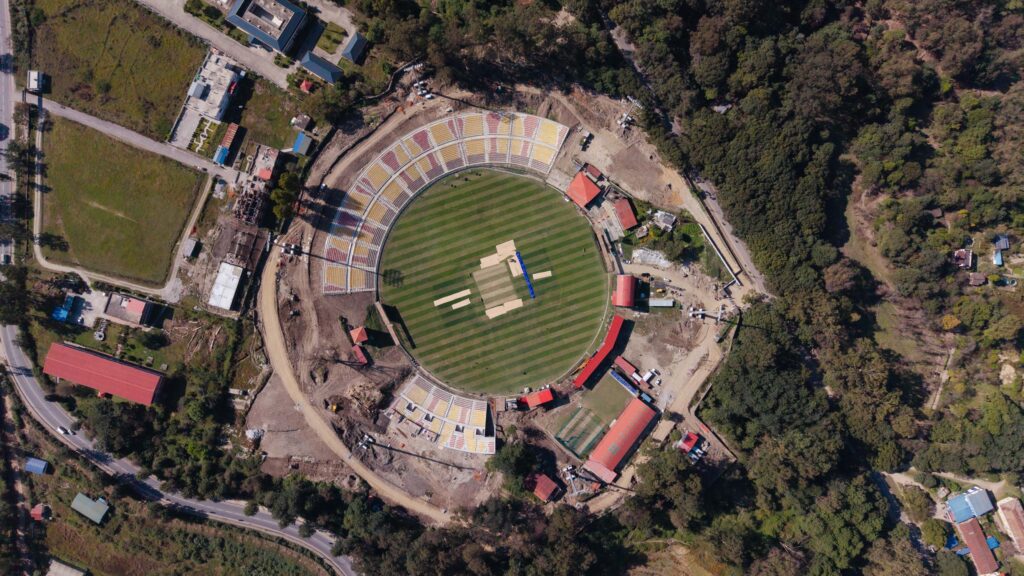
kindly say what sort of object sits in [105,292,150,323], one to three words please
house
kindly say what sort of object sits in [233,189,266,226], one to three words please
building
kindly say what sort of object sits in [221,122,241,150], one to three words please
shed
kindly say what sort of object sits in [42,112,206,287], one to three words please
sports field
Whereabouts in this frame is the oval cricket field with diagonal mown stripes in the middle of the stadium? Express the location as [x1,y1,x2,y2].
[379,168,609,394]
